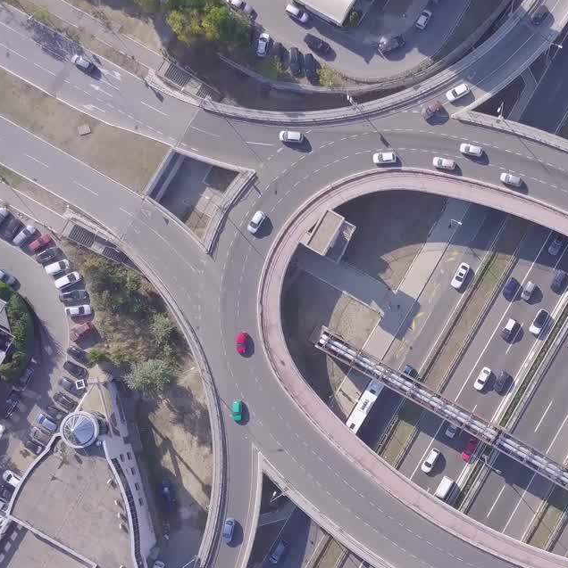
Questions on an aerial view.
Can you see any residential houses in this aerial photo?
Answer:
Yes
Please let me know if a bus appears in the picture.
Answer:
Yes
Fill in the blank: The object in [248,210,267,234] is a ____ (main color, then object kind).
white car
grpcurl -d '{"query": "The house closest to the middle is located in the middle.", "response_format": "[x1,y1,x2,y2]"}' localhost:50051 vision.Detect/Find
[305,209,362,262]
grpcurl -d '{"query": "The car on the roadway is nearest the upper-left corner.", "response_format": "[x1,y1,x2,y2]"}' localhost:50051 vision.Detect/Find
[70,54,97,74]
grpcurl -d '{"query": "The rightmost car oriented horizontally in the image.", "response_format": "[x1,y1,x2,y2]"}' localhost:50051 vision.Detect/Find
[499,173,524,187]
